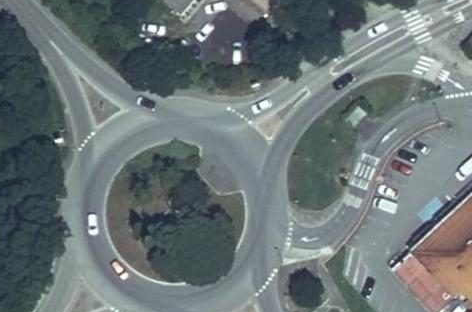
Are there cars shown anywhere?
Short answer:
Yes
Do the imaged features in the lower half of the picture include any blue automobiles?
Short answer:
No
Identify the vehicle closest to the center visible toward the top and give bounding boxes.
[252,99,274,114]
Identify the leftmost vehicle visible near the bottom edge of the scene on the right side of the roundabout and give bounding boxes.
[360,276,376,299]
